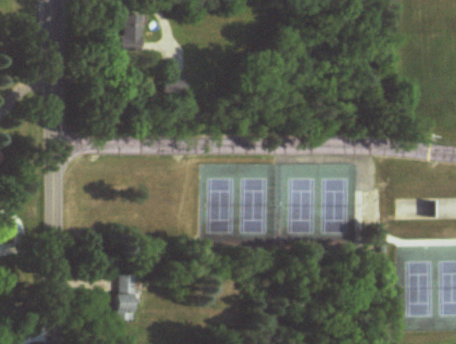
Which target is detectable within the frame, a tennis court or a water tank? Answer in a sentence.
The one in the frame is a tennis court.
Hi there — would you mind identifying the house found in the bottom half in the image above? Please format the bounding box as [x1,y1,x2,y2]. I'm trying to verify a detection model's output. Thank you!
[118,275,140,321]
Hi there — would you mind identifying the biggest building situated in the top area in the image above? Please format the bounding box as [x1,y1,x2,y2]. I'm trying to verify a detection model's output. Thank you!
[122,12,146,49]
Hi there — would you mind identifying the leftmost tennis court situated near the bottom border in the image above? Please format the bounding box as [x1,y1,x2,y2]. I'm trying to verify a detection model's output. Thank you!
[396,246,435,330]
